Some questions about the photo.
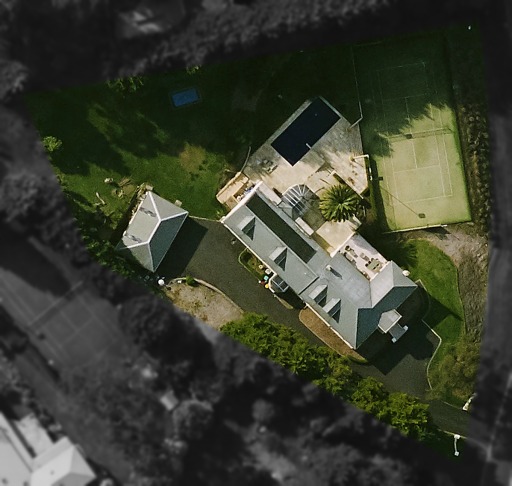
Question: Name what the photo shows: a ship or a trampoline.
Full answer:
Visible in the photo is a trampoline.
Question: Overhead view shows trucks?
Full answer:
No, there isn't any truck down there.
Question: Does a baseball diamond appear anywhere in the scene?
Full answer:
No, the frame has no baseball diamond in it.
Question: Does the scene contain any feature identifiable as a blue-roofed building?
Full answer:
No, the picture doesn't show any blue-roofed building.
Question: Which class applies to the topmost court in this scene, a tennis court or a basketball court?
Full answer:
I'd identify the topmost court as a tennis court.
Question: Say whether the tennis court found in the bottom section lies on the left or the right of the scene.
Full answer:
The tennis court found in the bottom section sits on the left side.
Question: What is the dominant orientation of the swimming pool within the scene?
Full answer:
In this picture, the swimming pool lies at an angle.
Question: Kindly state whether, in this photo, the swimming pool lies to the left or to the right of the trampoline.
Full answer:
The swimming pool appears to the right of the trampoline in this view.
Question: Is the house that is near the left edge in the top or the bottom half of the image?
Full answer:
The house that is near the left edge is in the bottom half of the image.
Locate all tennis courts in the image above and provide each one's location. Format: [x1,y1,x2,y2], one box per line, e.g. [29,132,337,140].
[0,226,128,385]
[352,30,472,233]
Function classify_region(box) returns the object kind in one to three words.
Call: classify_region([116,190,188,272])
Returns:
building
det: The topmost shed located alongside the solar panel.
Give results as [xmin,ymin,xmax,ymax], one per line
[216,172,248,203]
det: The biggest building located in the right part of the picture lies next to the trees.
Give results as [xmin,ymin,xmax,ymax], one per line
[222,182,418,350]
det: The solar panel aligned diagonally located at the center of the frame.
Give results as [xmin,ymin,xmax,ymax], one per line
[246,194,317,264]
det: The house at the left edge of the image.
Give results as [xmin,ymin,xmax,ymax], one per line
[0,410,96,486]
